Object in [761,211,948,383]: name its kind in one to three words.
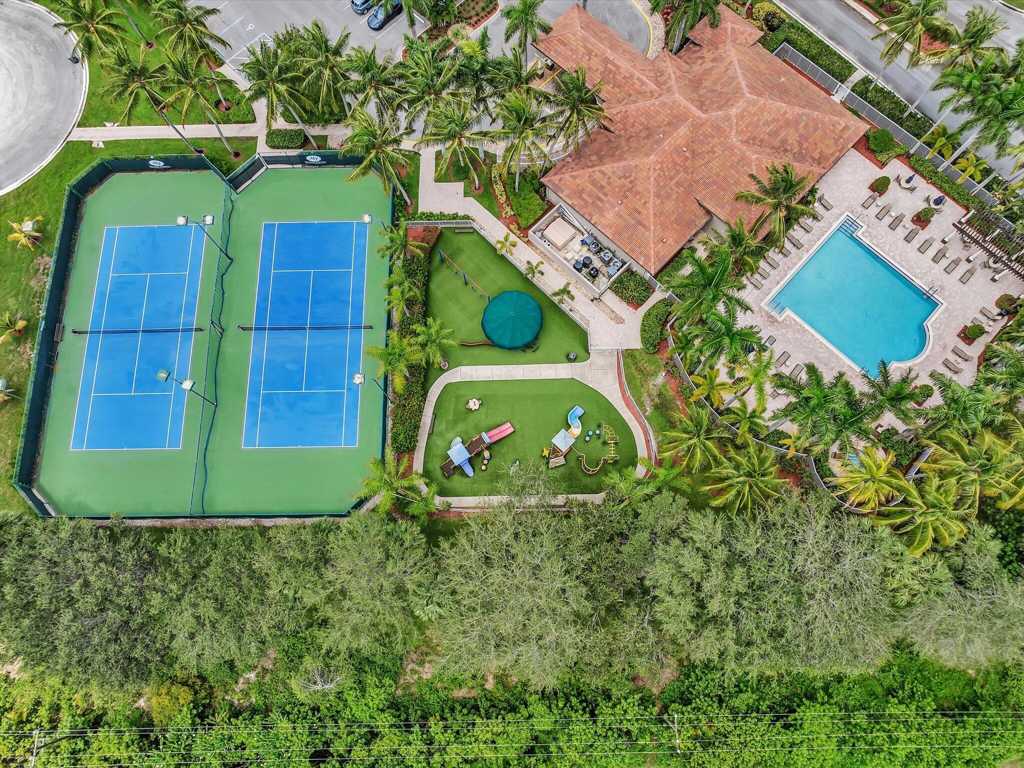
swimming pool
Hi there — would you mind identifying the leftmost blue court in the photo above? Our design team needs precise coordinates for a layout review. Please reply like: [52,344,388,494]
[69,224,207,451]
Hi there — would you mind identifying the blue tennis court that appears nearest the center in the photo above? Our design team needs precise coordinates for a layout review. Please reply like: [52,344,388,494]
[240,220,372,449]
